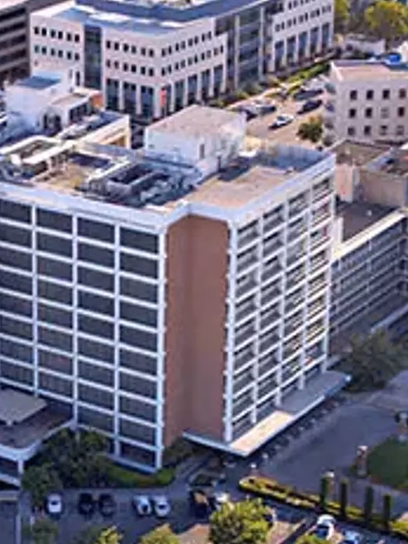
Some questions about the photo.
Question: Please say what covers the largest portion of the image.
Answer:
buildings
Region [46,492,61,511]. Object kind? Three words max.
car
